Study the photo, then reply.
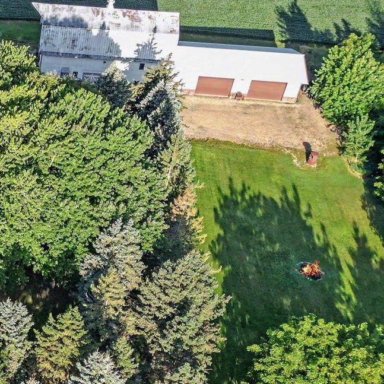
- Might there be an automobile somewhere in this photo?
No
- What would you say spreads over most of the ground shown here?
trees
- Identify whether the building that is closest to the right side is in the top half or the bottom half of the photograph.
top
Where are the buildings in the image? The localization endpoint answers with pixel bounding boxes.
[177,40,310,105]
[33,0,181,87]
